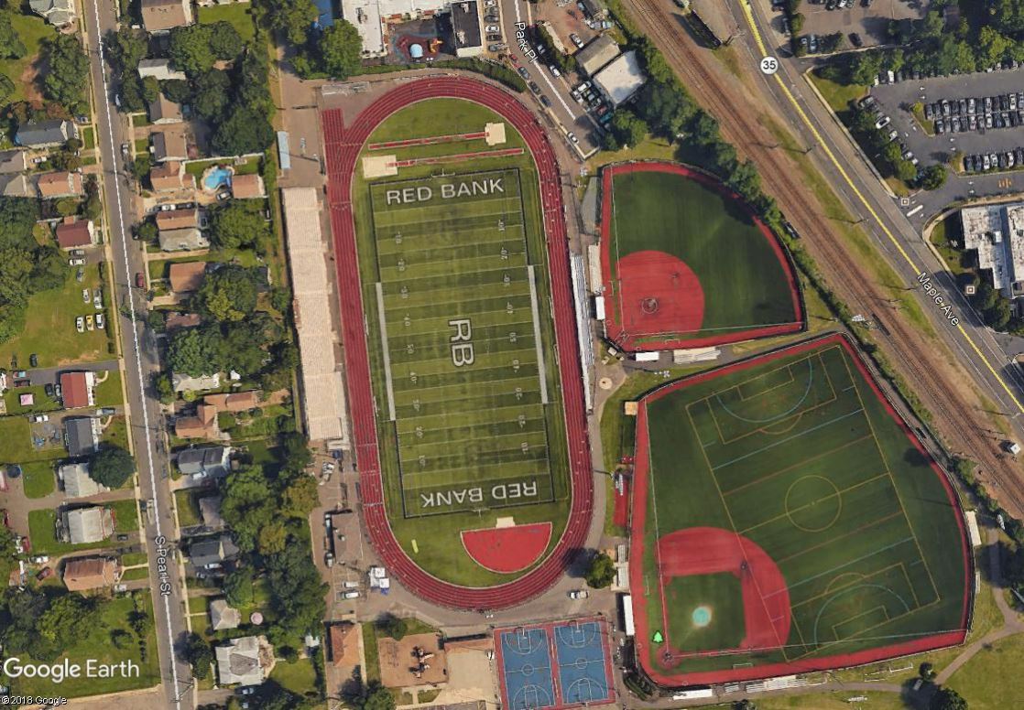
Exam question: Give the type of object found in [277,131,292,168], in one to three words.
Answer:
shed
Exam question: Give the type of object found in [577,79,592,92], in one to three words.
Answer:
vehicle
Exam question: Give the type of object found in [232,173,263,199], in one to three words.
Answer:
building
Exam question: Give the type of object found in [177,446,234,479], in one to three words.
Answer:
house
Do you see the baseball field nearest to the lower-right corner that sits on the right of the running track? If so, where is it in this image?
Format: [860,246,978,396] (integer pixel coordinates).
[629,332,975,688]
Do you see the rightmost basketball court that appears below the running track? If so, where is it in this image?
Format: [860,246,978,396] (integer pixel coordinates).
[551,617,616,710]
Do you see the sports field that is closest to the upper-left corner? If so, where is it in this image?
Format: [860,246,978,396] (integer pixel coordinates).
[366,165,560,520]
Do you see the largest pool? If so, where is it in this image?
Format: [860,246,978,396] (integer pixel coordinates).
[202,166,234,190]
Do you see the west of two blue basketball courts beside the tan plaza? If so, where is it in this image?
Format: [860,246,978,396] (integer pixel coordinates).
[493,625,559,710]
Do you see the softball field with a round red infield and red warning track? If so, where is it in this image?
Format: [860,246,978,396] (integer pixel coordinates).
[601,162,806,352]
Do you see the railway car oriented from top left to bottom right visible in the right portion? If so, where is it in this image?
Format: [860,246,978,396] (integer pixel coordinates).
[692,6,725,45]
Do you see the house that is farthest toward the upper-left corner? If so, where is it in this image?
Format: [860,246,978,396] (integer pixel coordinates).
[32,0,87,29]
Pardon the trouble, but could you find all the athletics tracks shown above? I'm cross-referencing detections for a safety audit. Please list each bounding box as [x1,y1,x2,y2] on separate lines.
[322,74,596,611]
